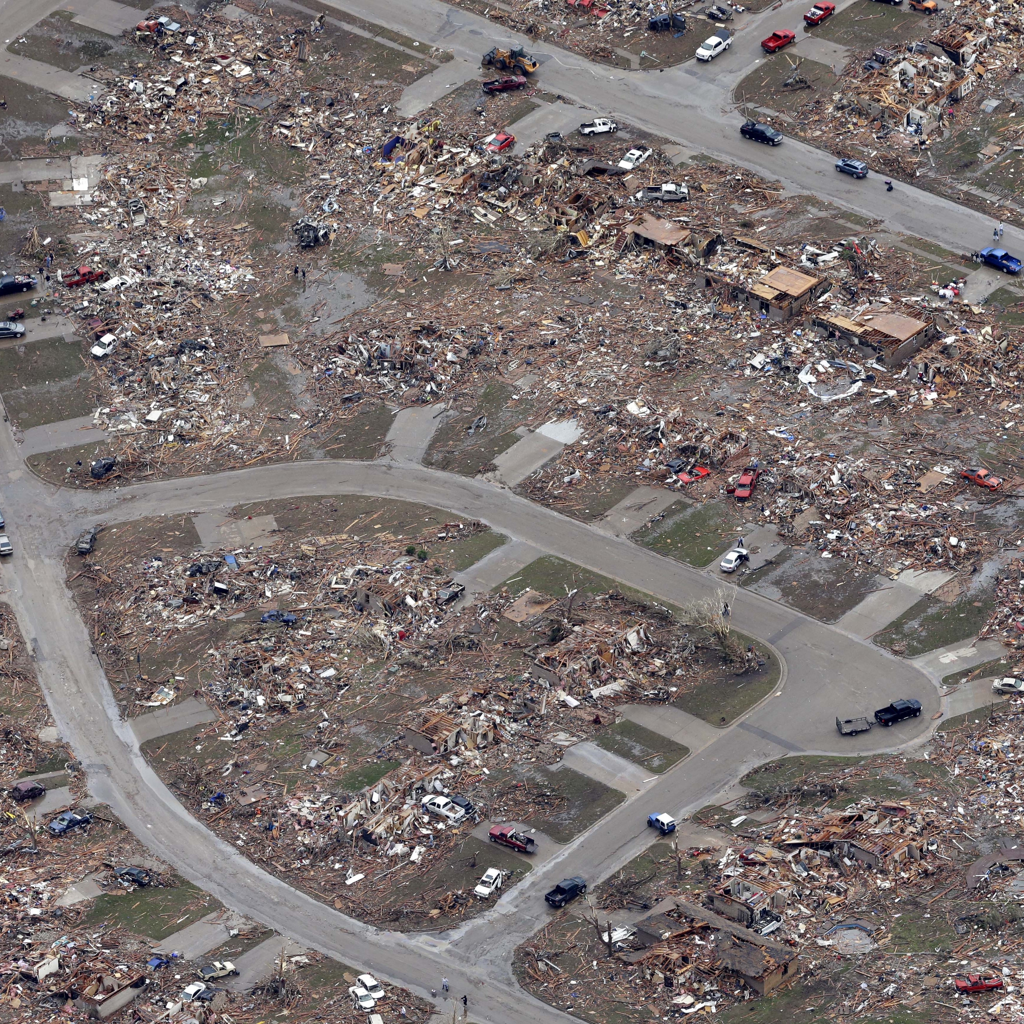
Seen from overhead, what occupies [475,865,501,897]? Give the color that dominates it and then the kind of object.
white car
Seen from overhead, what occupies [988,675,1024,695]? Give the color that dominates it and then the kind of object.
gray car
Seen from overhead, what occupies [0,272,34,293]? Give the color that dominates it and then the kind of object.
black truck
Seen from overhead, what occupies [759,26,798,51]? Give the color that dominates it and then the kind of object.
red truck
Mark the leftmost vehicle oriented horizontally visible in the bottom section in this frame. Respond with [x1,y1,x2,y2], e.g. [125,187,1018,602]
[6,778,50,800]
